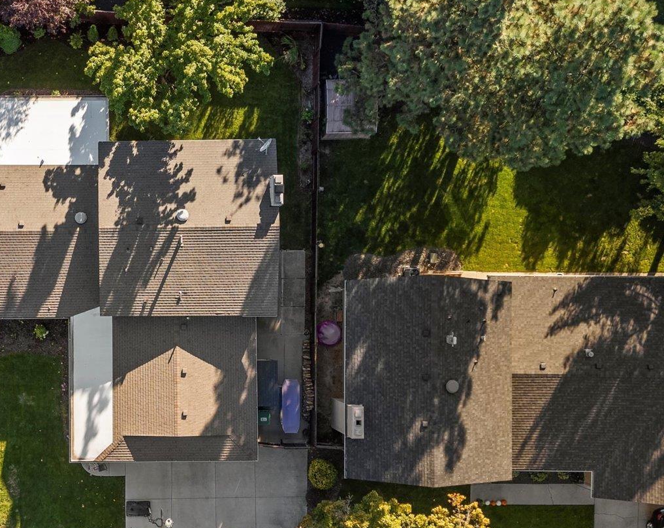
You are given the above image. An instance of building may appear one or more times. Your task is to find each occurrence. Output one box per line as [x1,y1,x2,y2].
[329,274,664,501]
[0,96,285,465]
[320,81,377,142]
